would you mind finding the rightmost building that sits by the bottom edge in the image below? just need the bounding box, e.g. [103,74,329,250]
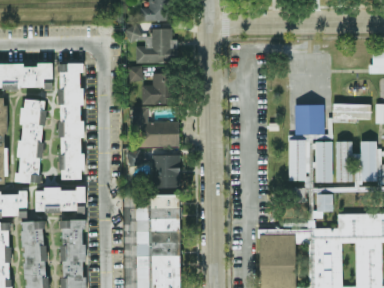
[312,214,384,288]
